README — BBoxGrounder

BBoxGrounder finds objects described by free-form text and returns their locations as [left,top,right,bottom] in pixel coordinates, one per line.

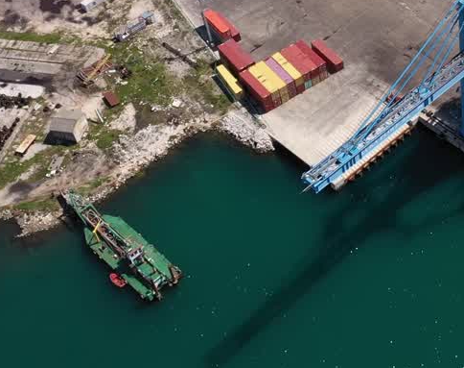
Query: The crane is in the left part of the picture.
[72,49,109,83]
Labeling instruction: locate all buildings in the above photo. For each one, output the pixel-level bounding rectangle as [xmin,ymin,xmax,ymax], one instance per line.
[43,107,79,141]
[104,90,120,111]
[80,0,108,17]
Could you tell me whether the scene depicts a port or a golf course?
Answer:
port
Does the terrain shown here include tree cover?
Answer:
No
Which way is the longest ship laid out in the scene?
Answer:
at an angle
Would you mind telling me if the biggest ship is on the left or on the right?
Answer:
left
